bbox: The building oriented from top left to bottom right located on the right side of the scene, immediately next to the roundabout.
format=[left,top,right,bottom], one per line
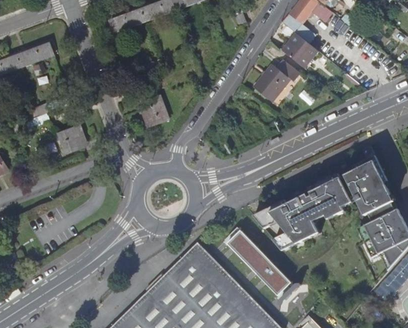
[224,228,293,298]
